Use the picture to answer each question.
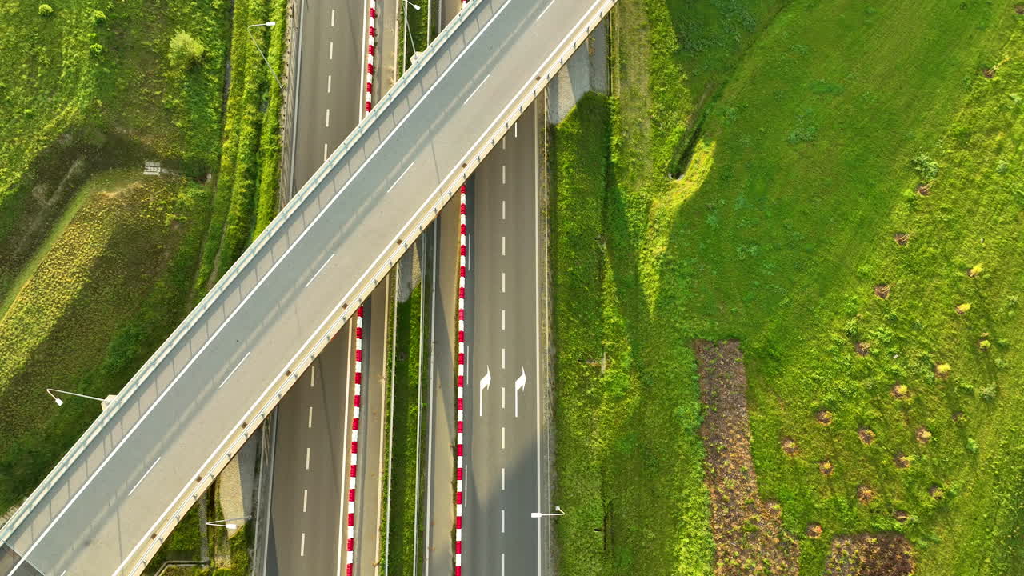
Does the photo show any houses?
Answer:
No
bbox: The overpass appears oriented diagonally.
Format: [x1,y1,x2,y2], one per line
[0,0,619,576]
